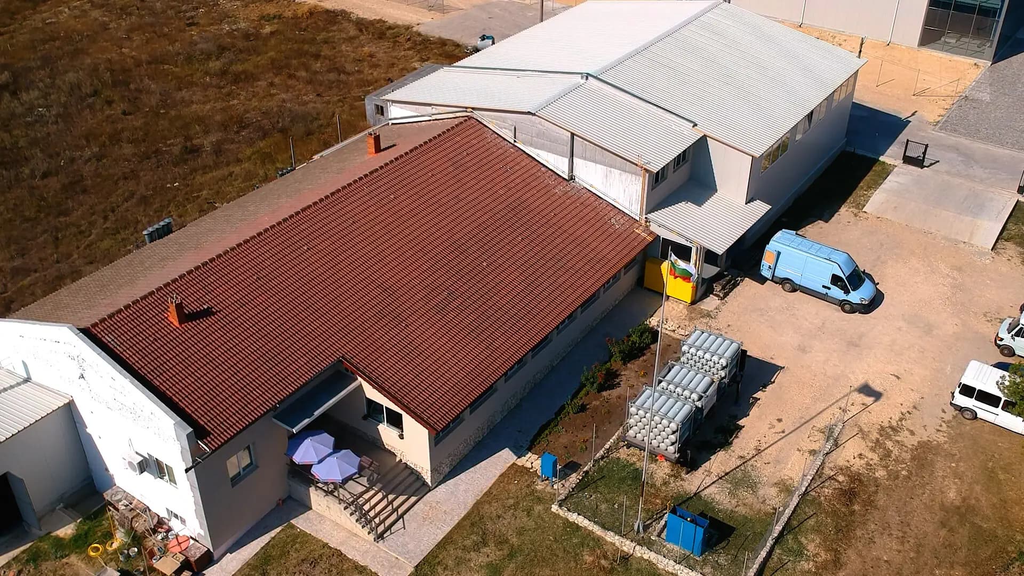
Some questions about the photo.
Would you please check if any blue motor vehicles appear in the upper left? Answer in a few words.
No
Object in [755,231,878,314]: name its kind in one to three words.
van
